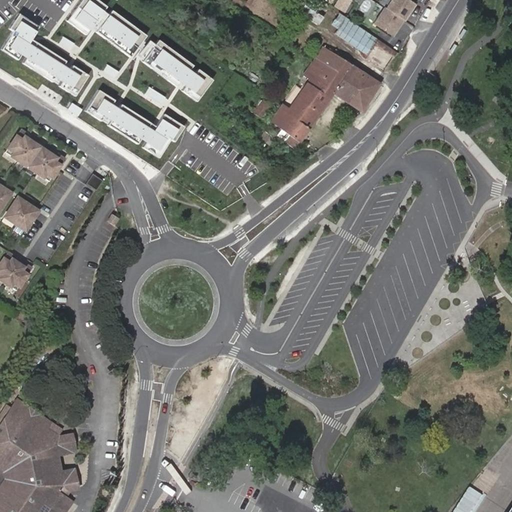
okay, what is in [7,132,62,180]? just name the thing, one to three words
house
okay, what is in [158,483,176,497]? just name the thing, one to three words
vehicle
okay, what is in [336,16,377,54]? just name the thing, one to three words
building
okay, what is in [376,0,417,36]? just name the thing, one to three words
house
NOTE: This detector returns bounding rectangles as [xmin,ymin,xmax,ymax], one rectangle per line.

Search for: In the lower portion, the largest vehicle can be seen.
[161,459,192,494]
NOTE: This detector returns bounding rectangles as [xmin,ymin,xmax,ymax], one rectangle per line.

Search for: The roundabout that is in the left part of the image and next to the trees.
[116,236,243,369]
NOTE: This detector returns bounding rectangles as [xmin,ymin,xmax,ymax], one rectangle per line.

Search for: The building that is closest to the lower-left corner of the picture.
[0,398,80,512]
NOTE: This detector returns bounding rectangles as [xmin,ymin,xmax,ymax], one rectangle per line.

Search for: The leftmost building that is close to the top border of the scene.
[0,13,88,96]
